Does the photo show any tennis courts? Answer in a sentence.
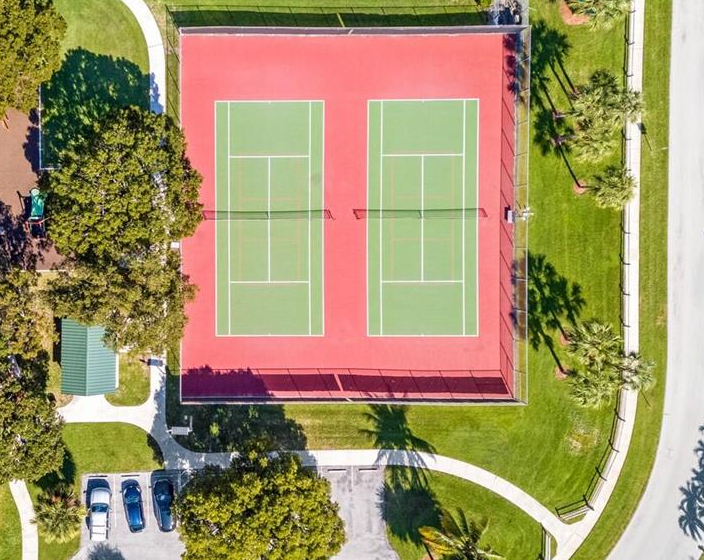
Yes, there is a tennis court in the image.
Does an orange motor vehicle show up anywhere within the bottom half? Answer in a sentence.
No, within the bottom half there is no orange motor vehicle.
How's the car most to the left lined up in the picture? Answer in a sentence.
The car most to the left is oriented up and down.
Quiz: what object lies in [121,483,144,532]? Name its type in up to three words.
car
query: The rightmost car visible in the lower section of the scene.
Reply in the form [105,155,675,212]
[152,482,174,530]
